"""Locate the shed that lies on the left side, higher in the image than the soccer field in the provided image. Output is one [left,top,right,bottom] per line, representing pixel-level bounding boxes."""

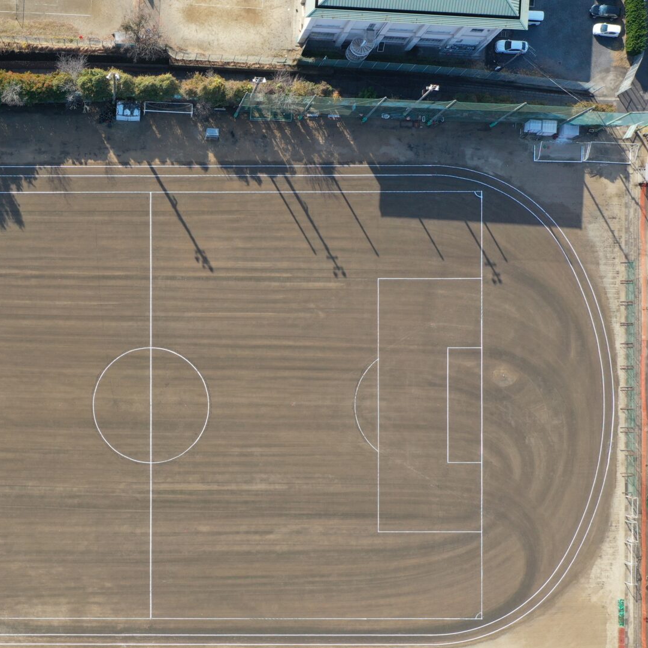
[115,97,140,121]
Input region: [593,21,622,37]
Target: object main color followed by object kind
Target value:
white car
